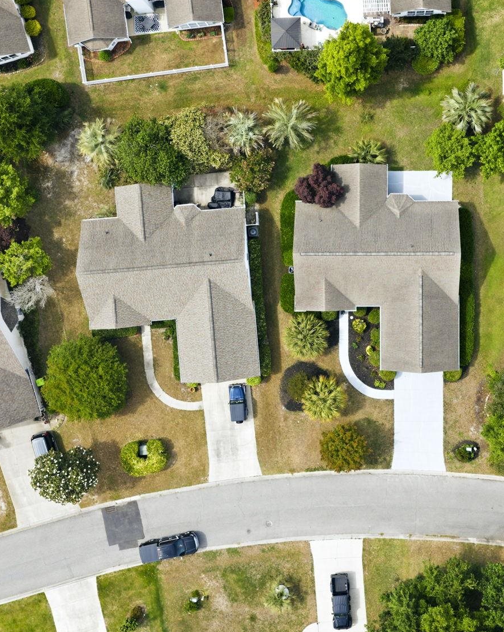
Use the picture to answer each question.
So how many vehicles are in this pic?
four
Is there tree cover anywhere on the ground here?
Yes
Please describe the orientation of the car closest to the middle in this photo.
vertically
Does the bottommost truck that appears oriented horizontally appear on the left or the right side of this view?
left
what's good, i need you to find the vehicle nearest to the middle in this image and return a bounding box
[225,381,250,428]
